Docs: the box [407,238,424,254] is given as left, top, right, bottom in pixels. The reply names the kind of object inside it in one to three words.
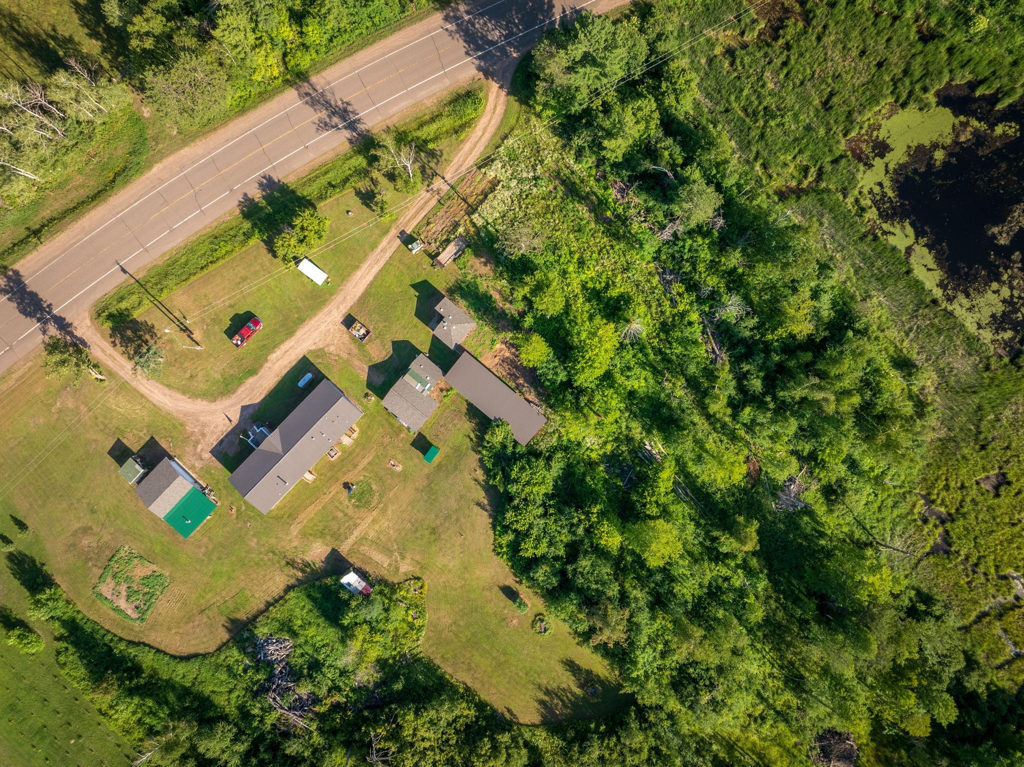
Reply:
vehicle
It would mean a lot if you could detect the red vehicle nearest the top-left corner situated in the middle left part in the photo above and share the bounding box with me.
[230,317,265,349]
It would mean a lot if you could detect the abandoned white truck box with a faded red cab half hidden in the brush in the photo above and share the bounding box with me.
[340,567,370,596]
